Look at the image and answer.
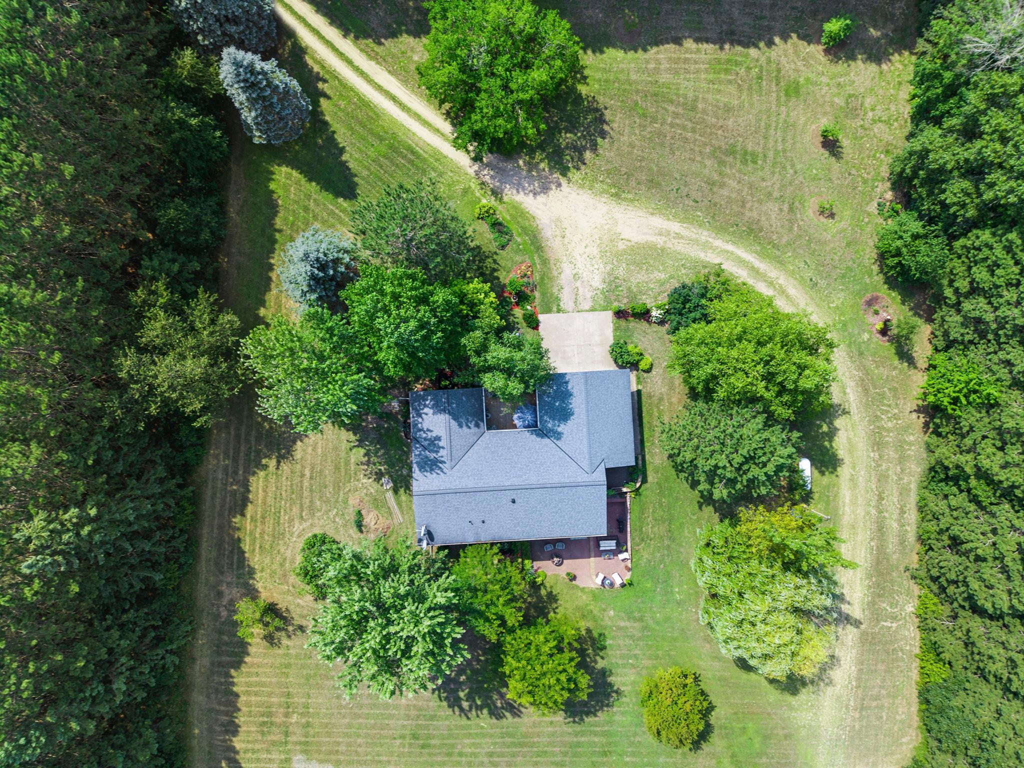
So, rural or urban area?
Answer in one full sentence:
The land in this view is best described as rural.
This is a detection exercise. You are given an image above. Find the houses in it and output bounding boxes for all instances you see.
[397,368,637,547]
